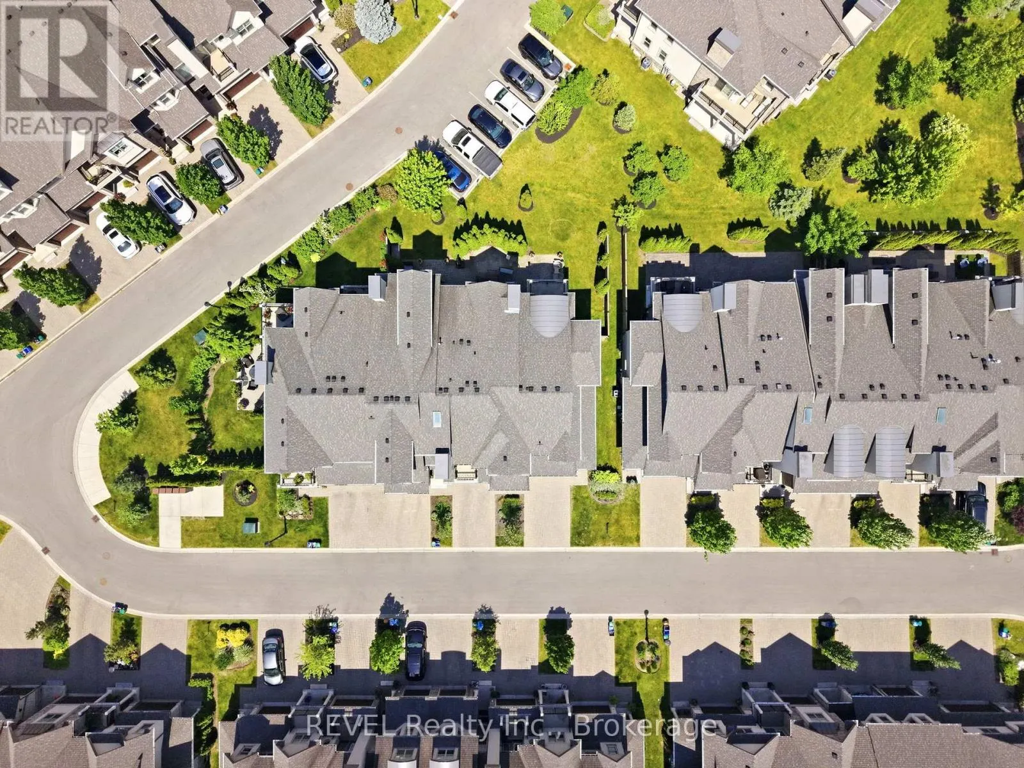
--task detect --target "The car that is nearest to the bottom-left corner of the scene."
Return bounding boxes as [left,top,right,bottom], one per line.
[260,633,286,683]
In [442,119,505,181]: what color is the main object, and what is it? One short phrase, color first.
white truck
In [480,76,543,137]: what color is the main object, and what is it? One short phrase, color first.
white truck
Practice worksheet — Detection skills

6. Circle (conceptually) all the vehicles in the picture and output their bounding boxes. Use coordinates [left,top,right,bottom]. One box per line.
[464,101,515,151]
[515,31,566,82]
[294,35,340,88]
[97,216,143,263]
[199,138,246,191]
[442,119,505,181]
[146,173,195,227]
[260,633,286,683]
[427,147,477,196]
[480,76,543,137]
[498,56,547,106]
[404,625,429,679]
